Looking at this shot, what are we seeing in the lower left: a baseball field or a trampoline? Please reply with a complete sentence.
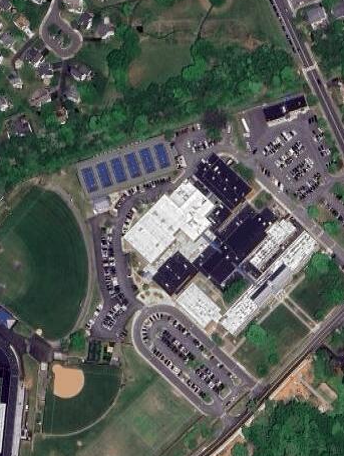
It is a baseball field that can be seen in the lower left.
